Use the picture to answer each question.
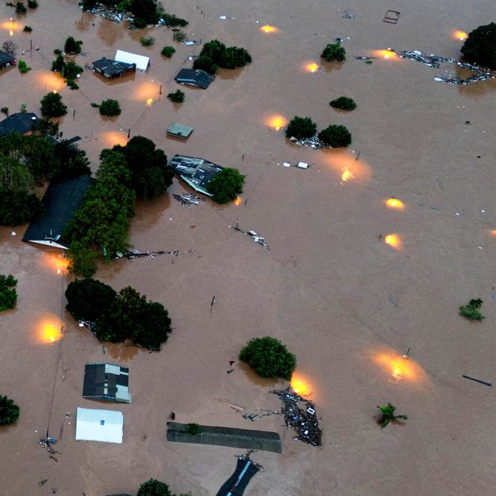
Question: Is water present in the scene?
Yes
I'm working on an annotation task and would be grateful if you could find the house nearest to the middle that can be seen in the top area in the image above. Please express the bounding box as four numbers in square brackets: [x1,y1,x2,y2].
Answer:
[170,155,227,196]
